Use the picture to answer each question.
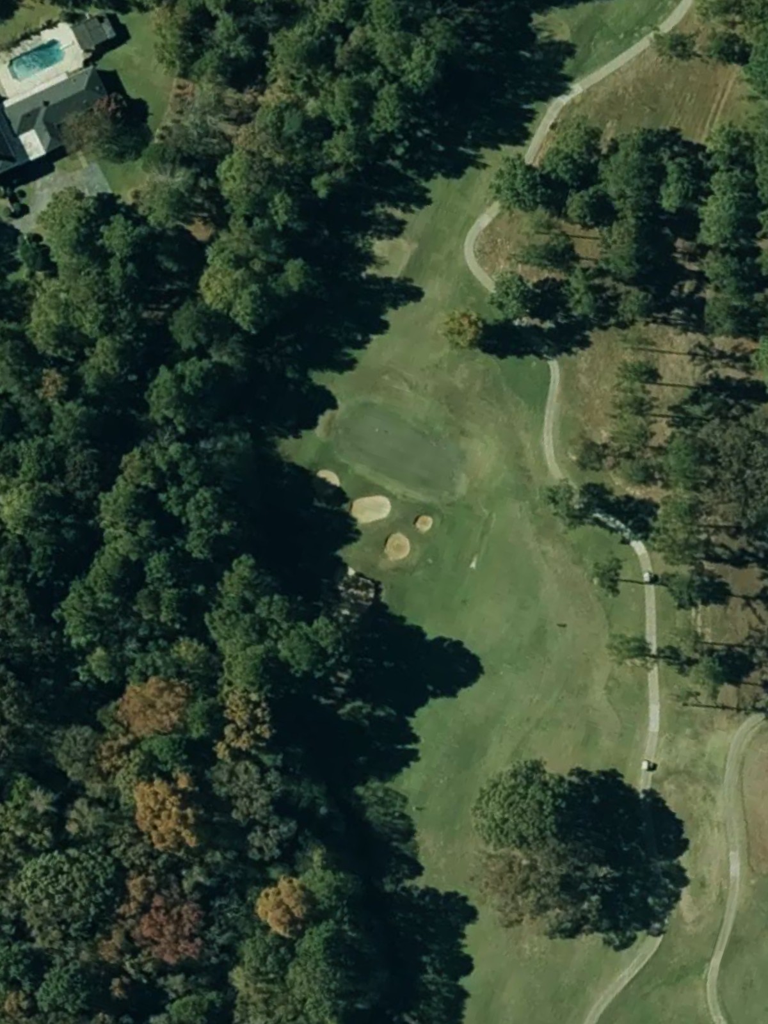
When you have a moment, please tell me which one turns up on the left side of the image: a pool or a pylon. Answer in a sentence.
There is a pool on the left side of the image.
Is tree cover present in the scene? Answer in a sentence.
Yes, tree cover shows up in the scene.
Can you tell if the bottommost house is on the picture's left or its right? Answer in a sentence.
The bottommost house appears in the left half of the scene.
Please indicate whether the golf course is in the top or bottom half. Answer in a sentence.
Seen from above, the golf course lies in the bottom half of the view.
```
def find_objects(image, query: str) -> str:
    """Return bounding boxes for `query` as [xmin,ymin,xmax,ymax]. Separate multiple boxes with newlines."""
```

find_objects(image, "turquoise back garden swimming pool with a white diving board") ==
[7,38,73,82]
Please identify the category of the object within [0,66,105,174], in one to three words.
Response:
house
